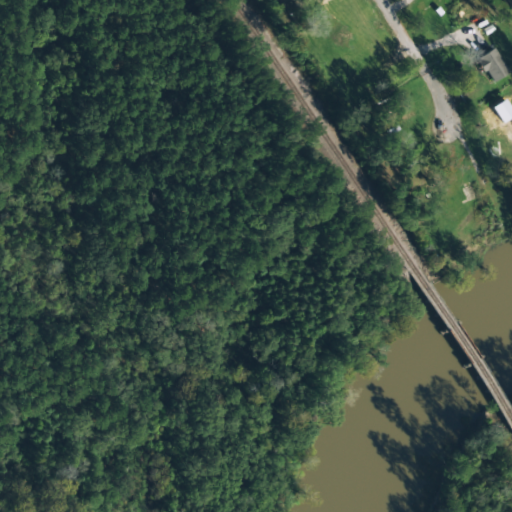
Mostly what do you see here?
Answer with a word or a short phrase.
trees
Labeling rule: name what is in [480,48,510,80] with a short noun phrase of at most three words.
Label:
house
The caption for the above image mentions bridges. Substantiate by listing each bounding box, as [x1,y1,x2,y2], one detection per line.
[402,255,512,426]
